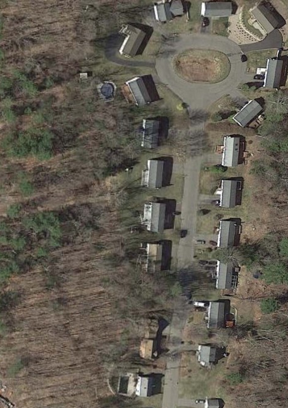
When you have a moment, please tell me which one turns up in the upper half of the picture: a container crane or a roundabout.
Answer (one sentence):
You can see a roundabout in the upper half of the picture.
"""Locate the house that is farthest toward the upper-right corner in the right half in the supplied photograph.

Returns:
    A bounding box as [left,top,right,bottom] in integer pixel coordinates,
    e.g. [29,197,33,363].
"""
[248,1,279,36]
